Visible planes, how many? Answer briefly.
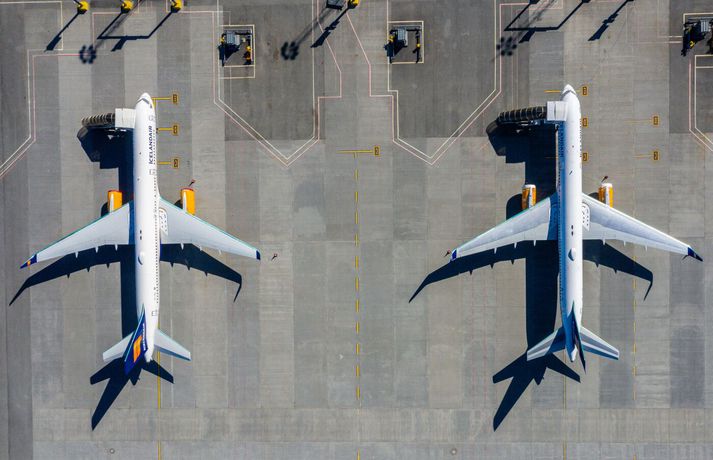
2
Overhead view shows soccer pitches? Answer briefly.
No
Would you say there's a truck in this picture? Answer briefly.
No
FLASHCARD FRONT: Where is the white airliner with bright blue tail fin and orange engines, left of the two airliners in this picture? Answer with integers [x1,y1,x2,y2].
[20,92,260,375]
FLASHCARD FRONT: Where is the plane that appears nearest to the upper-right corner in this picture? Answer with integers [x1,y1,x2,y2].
[451,84,704,373]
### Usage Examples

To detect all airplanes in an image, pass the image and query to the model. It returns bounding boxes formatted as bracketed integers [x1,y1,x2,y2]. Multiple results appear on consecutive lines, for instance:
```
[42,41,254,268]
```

[20,92,260,375]
[451,84,704,373]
